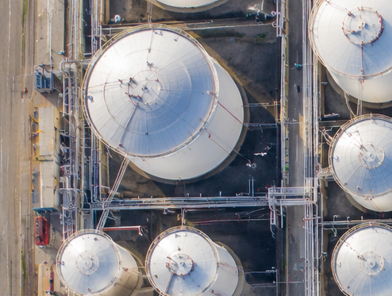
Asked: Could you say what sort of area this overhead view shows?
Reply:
industrial area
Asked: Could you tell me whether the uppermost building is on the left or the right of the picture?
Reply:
left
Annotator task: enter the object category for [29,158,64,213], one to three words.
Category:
building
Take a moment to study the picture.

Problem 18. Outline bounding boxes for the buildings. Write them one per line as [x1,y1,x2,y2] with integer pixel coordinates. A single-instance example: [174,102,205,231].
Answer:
[29,158,64,213]
[30,107,64,162]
